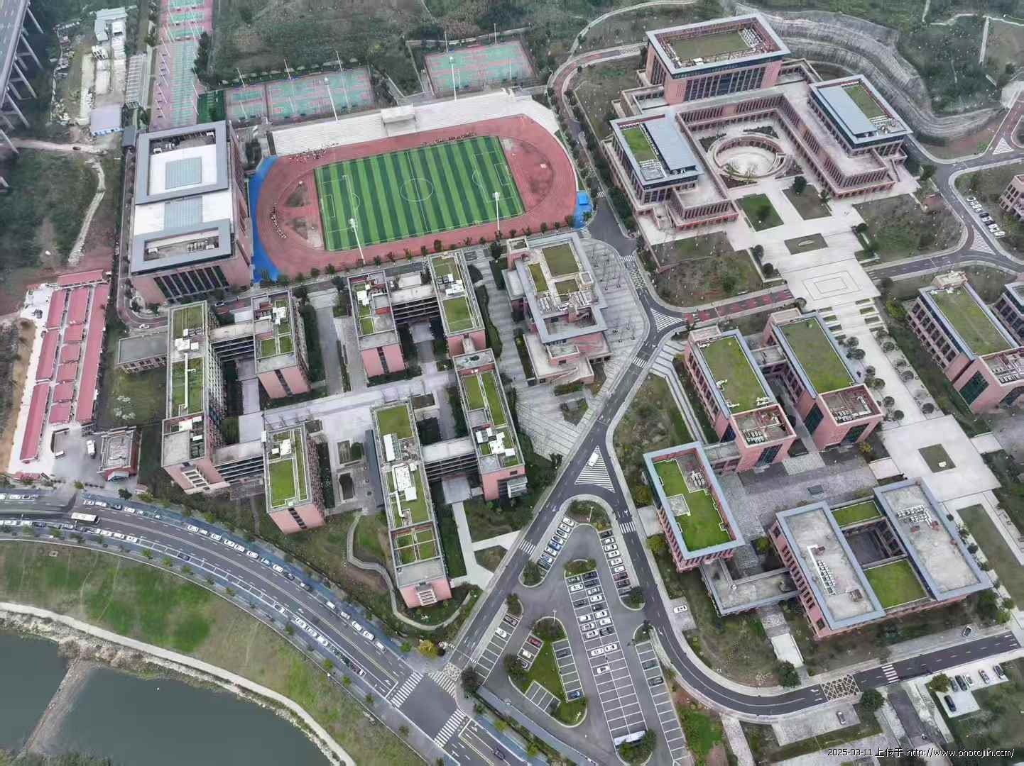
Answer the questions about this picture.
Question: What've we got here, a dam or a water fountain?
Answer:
dam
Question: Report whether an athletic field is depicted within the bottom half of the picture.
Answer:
No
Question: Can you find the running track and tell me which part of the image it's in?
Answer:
top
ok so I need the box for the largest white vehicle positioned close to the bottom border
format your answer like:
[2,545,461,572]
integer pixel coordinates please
[613,729,647,749]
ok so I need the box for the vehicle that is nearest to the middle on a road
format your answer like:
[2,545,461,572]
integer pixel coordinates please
[587,450,600,467]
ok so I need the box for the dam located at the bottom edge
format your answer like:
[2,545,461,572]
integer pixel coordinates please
[28,660,91,750]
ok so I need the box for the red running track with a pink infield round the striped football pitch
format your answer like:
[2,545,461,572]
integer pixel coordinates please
[257,114,578,278]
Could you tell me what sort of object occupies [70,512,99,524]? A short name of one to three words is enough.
vehicle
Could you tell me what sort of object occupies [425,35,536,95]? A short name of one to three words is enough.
basketball court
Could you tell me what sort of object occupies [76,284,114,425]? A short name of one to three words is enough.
shed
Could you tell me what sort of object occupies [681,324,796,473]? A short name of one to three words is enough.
building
